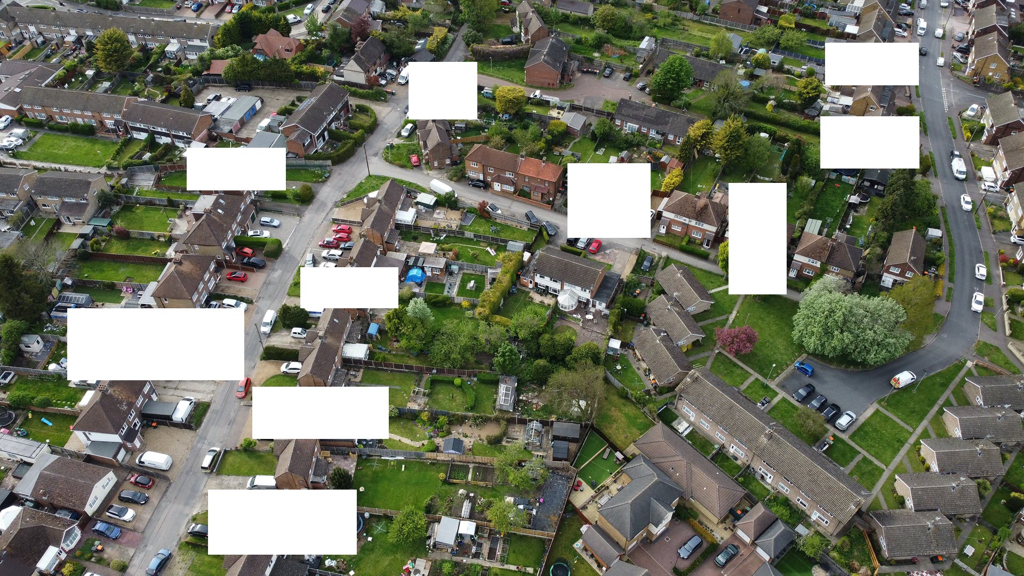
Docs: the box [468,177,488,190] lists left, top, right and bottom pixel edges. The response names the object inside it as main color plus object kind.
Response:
black vehicle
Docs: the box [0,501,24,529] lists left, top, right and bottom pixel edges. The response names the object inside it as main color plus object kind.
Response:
white gazebo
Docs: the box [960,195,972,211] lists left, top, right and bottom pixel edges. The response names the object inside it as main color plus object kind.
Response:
white vehicle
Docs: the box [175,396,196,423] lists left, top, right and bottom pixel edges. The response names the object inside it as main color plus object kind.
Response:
white vehicle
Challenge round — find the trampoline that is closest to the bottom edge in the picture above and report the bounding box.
[550,556,571,576]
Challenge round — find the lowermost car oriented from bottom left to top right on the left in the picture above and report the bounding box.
[143,547,174,576]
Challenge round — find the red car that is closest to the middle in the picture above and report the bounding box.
[588,239,603,255]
